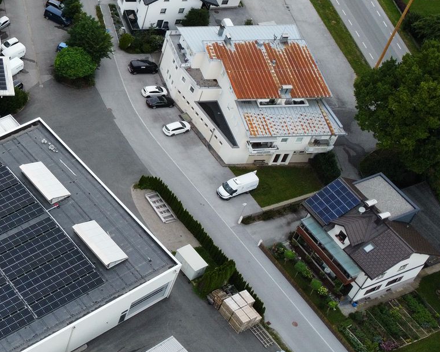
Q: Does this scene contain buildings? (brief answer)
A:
Yes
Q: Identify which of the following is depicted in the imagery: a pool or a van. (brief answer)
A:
van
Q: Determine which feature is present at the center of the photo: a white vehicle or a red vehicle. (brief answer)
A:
white vehicle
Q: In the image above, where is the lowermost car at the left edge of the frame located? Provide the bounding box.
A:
[13,76,30,89]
